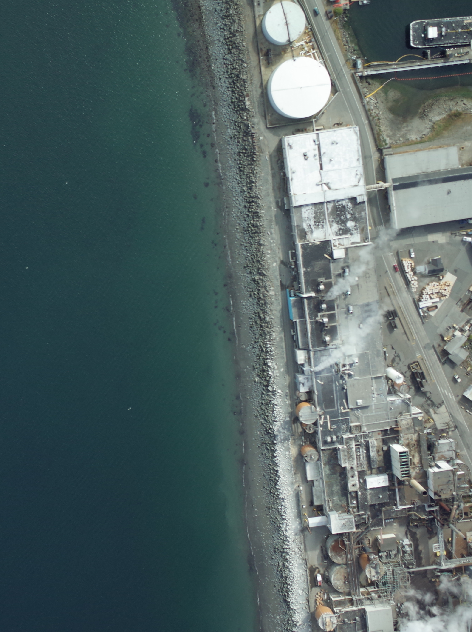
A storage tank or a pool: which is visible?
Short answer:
storage tank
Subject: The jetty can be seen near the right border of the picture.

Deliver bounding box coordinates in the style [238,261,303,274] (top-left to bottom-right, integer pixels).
[361,40,472,71]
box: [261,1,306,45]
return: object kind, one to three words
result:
storage tank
